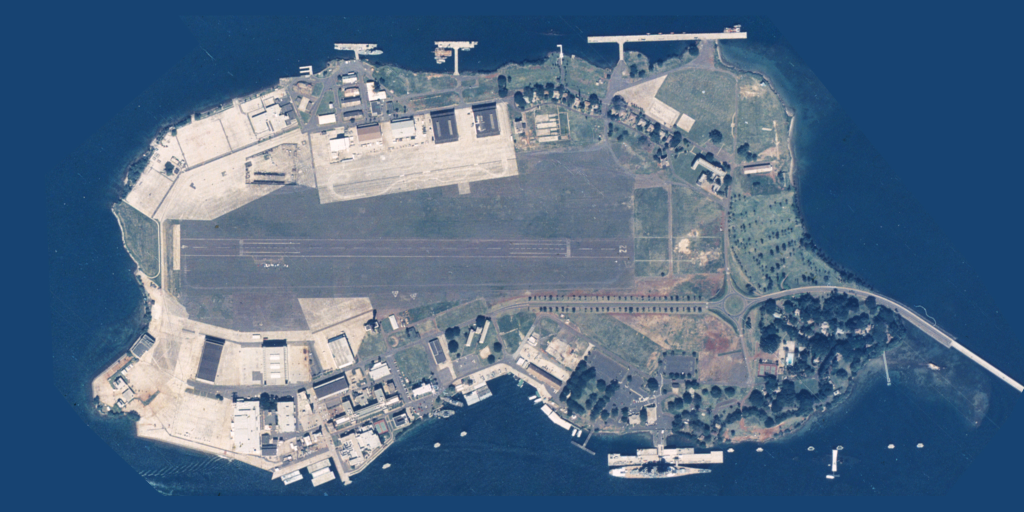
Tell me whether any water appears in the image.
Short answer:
Yes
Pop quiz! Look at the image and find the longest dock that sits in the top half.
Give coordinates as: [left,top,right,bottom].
[588,32,747,60]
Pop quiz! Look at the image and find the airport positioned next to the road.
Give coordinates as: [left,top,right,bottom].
[92,88,634,464]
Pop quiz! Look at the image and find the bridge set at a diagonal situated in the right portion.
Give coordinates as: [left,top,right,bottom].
[951,340,1024,393]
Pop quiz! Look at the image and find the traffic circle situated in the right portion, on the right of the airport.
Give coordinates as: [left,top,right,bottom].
[706,283,760,327]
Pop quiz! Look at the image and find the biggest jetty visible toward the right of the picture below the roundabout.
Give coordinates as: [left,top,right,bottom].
[608,444,723,467]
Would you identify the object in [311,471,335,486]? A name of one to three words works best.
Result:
ship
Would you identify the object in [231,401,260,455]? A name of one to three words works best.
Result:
building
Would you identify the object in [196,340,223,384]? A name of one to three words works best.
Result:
hangar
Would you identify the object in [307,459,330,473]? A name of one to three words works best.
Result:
ship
